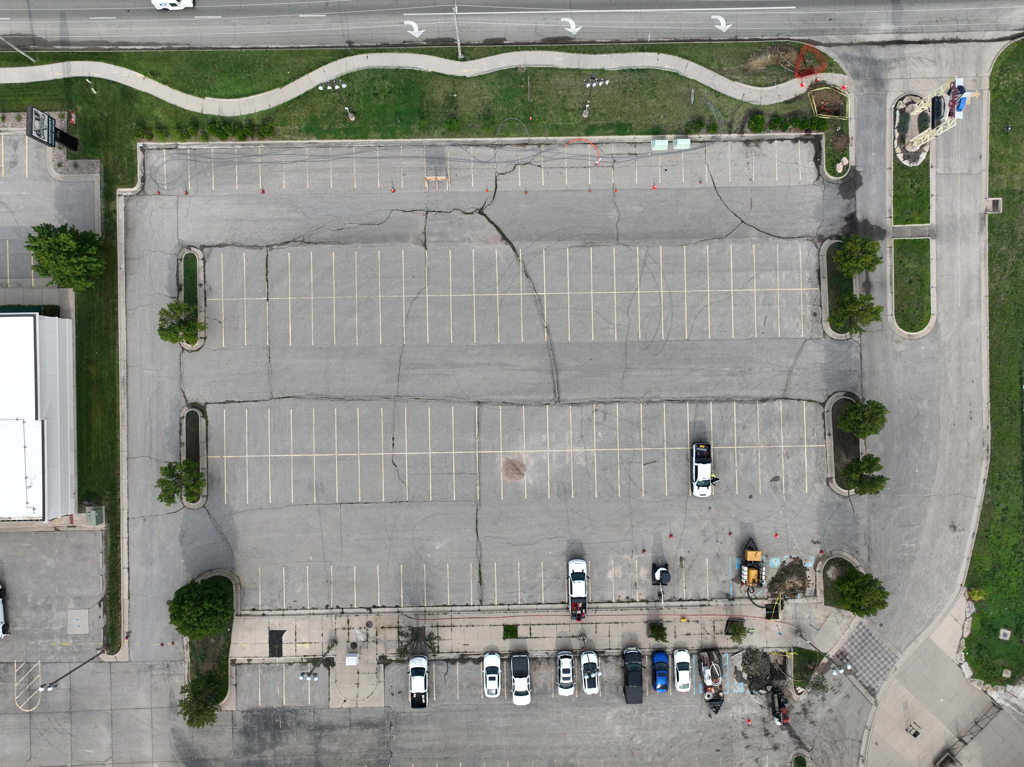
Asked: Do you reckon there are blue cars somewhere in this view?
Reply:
Yes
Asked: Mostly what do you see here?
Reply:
paved ground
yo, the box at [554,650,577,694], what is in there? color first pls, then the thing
white car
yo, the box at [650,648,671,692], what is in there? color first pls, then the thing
blue car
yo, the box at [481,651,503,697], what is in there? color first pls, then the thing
white car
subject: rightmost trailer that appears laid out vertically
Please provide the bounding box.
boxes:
[740,535,766,588]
